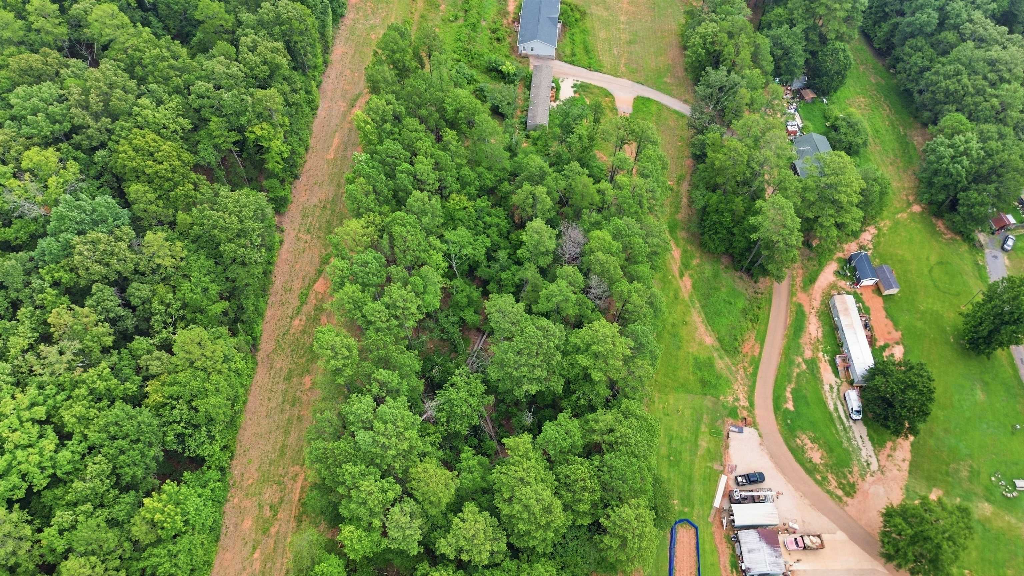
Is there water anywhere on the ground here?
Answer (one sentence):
No, the picture contains no water.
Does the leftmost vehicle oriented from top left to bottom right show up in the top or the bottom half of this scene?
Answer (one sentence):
The bottom half of the photo is where the leftmost vehicle oriented from top left to bottom right is.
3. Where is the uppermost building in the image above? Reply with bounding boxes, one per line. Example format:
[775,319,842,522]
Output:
[514,0,564,56]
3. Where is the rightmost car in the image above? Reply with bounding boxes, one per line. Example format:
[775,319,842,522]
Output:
[1002,234,1015,254]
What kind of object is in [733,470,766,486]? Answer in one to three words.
vehicle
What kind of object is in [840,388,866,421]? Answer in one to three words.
vehicle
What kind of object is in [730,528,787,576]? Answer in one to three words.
building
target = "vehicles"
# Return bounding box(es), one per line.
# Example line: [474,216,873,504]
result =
[782,534,827,551]
[840,388,866,421]
[1002,234,1015,254]
[733,470,766,486]
[730,488,781,504]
